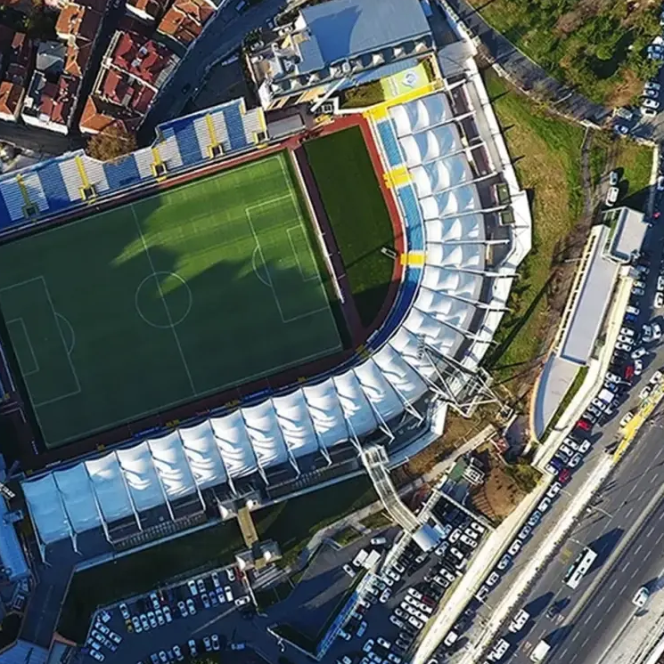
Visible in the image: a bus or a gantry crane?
bus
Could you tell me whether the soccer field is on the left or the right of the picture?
left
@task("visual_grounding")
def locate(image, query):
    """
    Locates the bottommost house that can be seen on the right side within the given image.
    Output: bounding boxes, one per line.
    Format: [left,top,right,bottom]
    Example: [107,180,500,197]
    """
[413,519,446,552]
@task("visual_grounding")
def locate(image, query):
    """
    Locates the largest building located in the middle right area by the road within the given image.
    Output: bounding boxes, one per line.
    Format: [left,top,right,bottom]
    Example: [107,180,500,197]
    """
[544,207,649,366]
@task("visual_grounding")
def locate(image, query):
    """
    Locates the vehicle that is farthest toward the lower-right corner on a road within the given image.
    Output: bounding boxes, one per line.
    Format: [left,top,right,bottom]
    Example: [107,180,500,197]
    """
[635,590,649,608]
